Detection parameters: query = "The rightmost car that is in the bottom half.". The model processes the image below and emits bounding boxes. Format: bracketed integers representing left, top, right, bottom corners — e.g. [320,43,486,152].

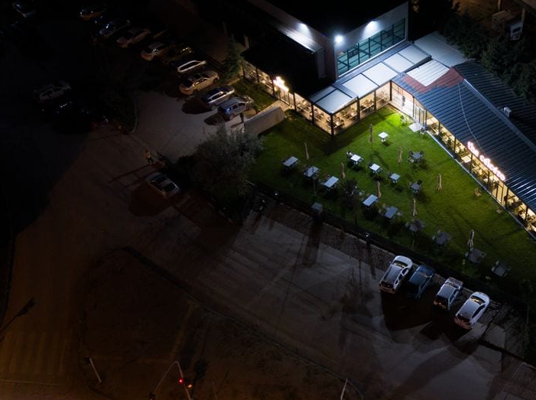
[452,290,491,330]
